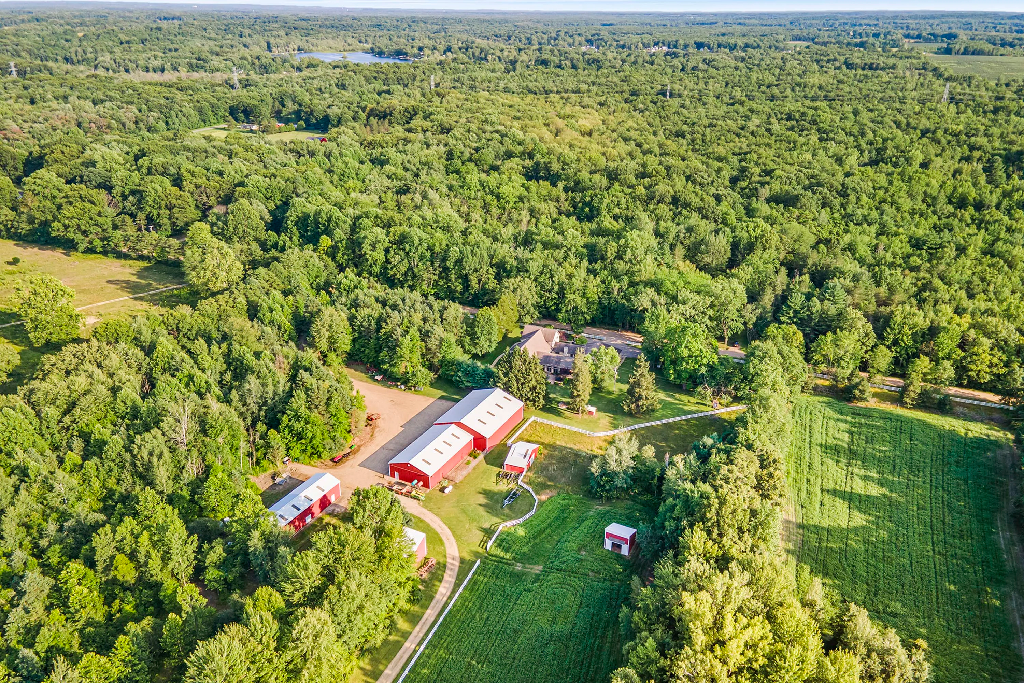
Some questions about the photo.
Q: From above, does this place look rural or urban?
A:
rural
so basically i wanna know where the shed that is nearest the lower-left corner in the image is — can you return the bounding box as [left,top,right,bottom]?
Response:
[265,472,341,541]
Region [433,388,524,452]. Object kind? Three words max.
barn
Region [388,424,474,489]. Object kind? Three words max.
barn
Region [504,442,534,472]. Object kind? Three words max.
shed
